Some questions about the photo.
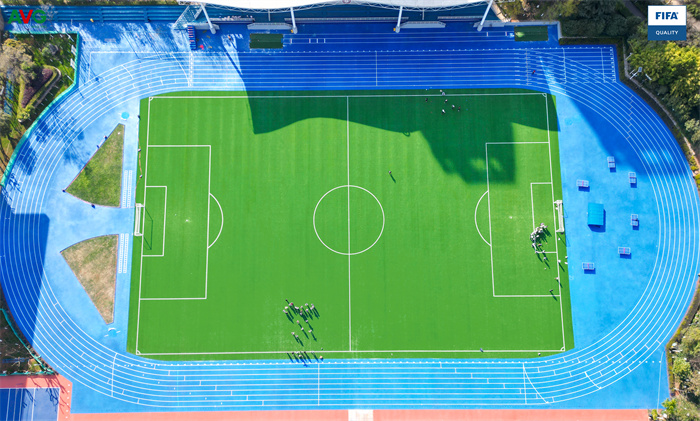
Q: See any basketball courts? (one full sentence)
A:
No, I can't see a single basketball court in this photo.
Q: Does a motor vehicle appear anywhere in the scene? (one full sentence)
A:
No, no motor vehicle is visible in the scene.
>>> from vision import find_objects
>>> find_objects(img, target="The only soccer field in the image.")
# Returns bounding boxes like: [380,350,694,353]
[124,89,577,360]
